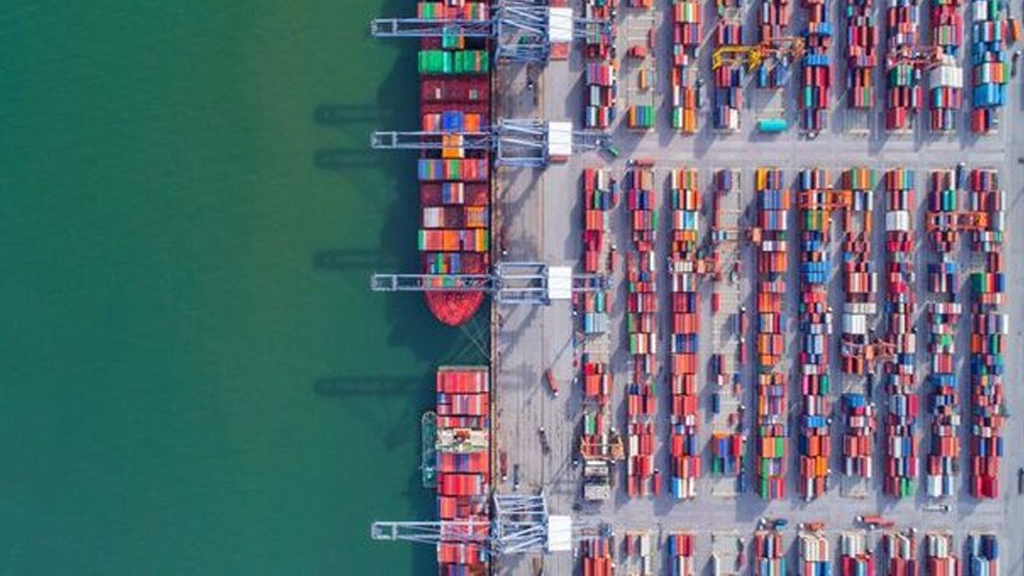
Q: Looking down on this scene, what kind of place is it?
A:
port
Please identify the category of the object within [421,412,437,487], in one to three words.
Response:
vessel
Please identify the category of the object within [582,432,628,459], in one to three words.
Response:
crane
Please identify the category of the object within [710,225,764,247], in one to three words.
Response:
crane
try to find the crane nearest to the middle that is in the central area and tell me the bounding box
[372,262,611,304]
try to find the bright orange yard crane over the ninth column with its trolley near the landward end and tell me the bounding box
[925,213,990,235]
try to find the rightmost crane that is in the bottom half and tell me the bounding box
[839,336,899,359]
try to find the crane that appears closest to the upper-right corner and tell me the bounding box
[882,46,945,77]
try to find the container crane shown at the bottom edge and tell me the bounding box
[372,485,611,551]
